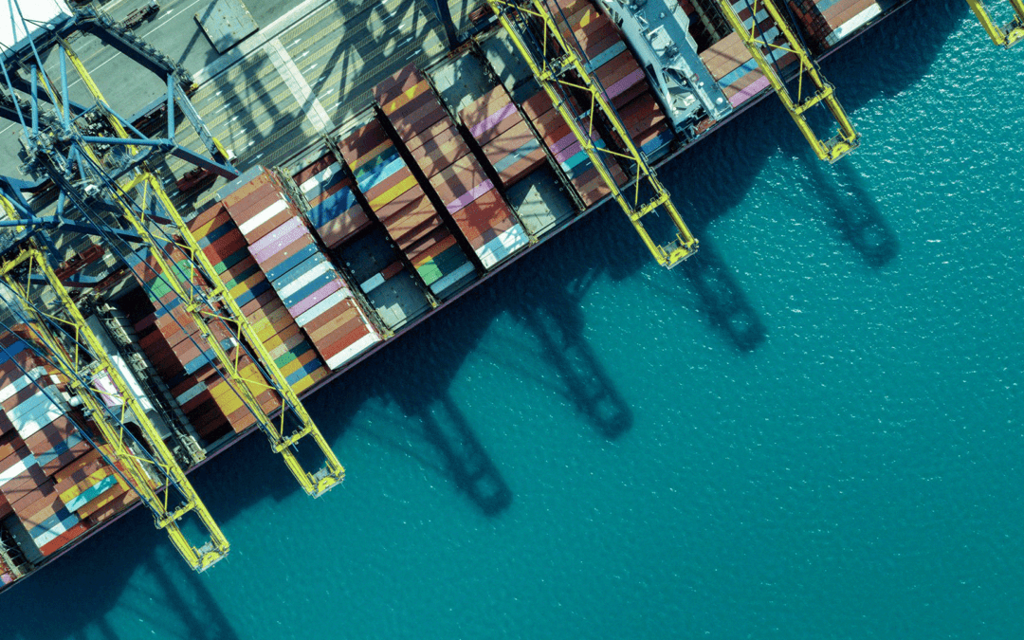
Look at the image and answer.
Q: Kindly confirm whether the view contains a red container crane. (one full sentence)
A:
No, there isn't any red container crane down there.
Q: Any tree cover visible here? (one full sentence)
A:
No, there is no tree cover in the image.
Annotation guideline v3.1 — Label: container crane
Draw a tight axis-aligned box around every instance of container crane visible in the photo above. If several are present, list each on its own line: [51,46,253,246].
[710,0,862,166]
[419,0,699,272]
[0,0,349,498]
[959,0,1024,52]
[0,90,235,575]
